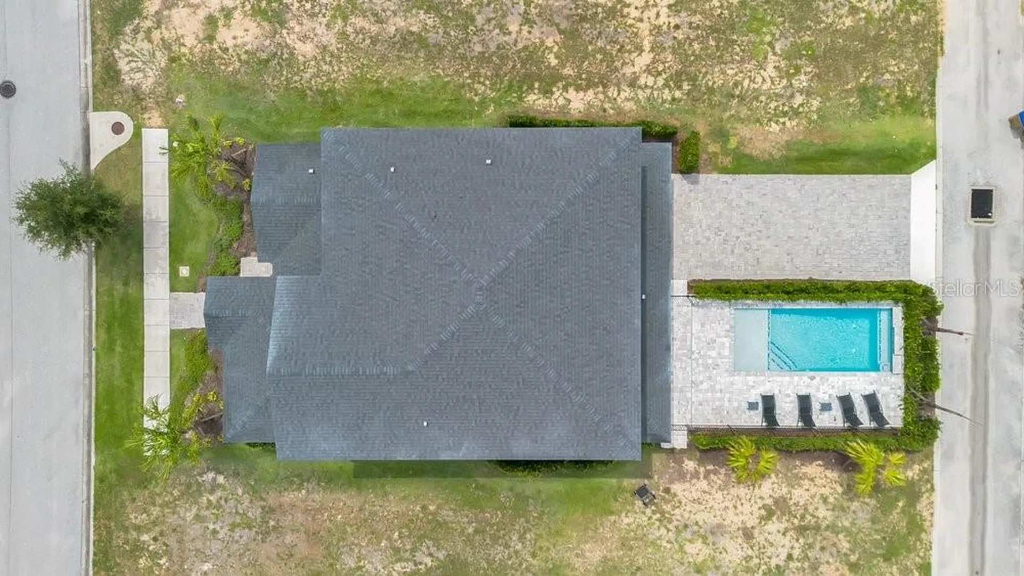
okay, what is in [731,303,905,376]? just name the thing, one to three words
swimming pool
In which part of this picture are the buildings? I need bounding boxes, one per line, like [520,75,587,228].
[202,127,673,461]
